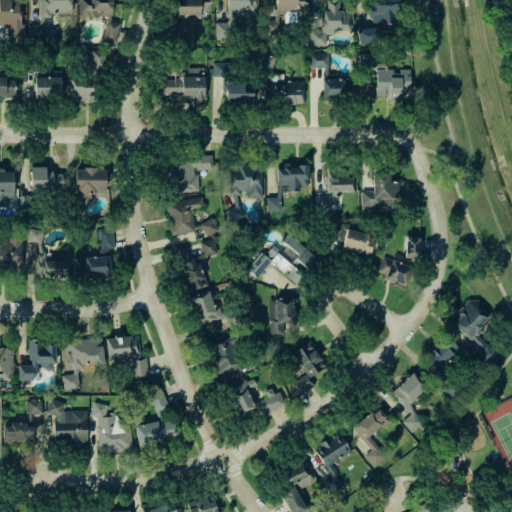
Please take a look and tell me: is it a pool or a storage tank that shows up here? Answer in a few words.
pool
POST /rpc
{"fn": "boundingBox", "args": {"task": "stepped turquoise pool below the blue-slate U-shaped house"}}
[34,375,57,391]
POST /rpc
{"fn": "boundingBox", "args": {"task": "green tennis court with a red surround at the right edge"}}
[484,398,512,467]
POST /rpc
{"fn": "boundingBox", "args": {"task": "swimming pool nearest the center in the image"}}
[263,230,284,246]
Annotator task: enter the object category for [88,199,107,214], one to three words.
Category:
swimming pool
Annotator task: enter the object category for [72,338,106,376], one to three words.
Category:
house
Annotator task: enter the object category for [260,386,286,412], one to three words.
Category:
building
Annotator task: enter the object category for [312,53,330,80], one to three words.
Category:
building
